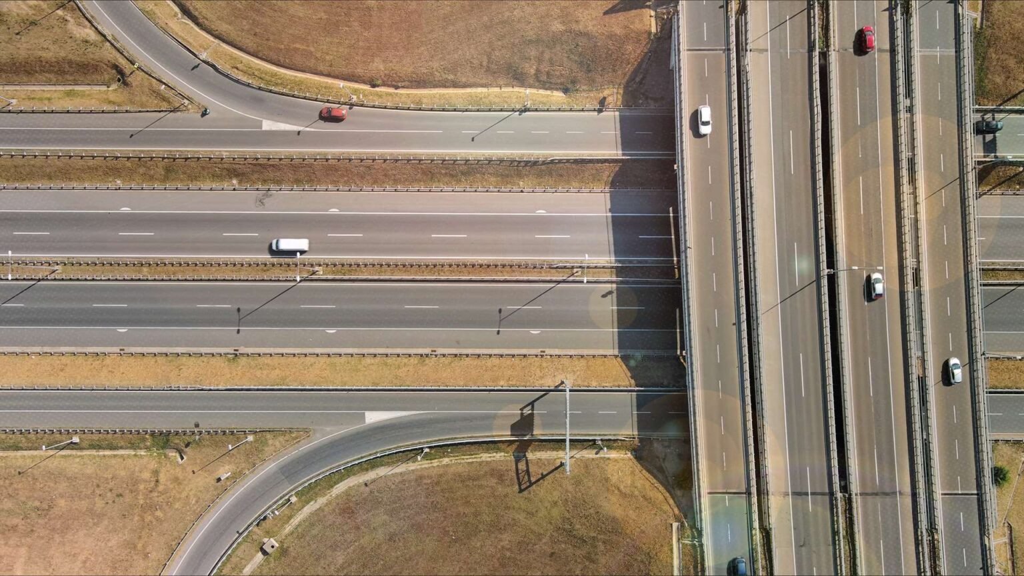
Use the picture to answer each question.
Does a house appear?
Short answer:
No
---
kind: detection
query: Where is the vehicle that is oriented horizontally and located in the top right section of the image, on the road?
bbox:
[973,121,1004,134]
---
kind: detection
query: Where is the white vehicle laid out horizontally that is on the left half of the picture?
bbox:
[272,238,309,253]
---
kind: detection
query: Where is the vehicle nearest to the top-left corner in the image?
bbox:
[320,107,348,120]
